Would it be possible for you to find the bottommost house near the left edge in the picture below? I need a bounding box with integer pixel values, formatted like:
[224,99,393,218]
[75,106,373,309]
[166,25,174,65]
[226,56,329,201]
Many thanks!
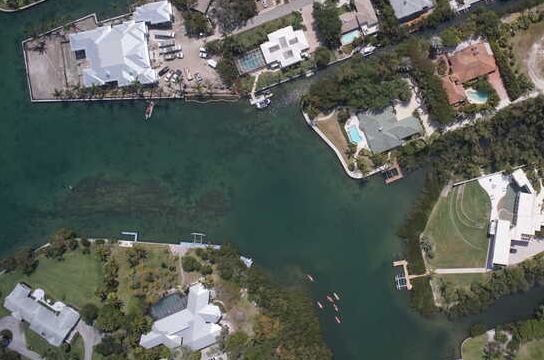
[4,283,81,347]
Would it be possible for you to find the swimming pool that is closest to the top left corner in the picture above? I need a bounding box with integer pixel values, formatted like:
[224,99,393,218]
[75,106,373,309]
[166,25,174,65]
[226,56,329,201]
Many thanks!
[241,54,264,72]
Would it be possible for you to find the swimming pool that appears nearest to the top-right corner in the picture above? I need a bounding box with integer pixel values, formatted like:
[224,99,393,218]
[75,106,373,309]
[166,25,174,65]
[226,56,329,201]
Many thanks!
[467,91,489,104]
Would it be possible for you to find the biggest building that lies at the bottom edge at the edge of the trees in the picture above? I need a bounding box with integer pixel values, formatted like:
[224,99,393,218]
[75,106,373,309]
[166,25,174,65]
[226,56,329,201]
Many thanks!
[137,281,226,353]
